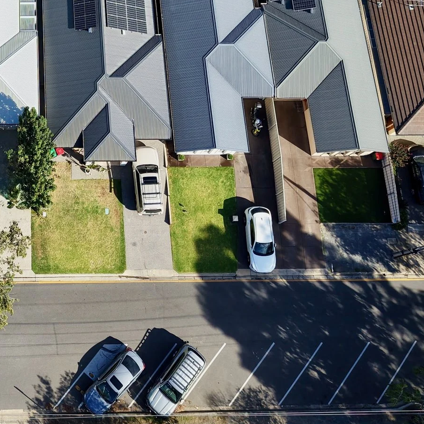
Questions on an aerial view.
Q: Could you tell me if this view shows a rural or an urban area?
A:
urban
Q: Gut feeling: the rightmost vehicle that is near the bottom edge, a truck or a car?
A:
car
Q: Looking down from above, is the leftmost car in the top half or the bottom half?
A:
bottom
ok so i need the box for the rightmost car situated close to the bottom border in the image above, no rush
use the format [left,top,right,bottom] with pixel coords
[148,339,207,423]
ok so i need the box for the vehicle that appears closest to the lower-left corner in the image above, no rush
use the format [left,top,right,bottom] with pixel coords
[86,344,142,419]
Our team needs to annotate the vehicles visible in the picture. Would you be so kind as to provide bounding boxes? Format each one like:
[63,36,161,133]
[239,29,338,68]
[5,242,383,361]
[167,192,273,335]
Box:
[241,207,280,275]
[148,339,207,423]
[252,102,268,136]
[133,146,167,216]
[86,344,142,419]
[401,141,424,208]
